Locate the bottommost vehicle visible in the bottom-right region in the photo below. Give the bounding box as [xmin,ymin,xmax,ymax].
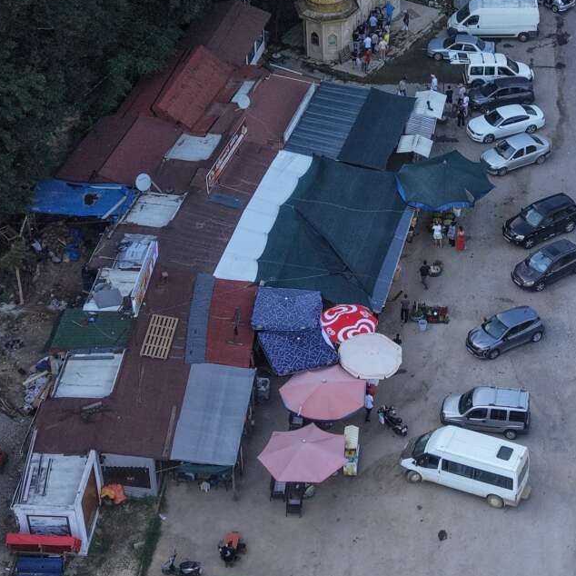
[396,421,535,509]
